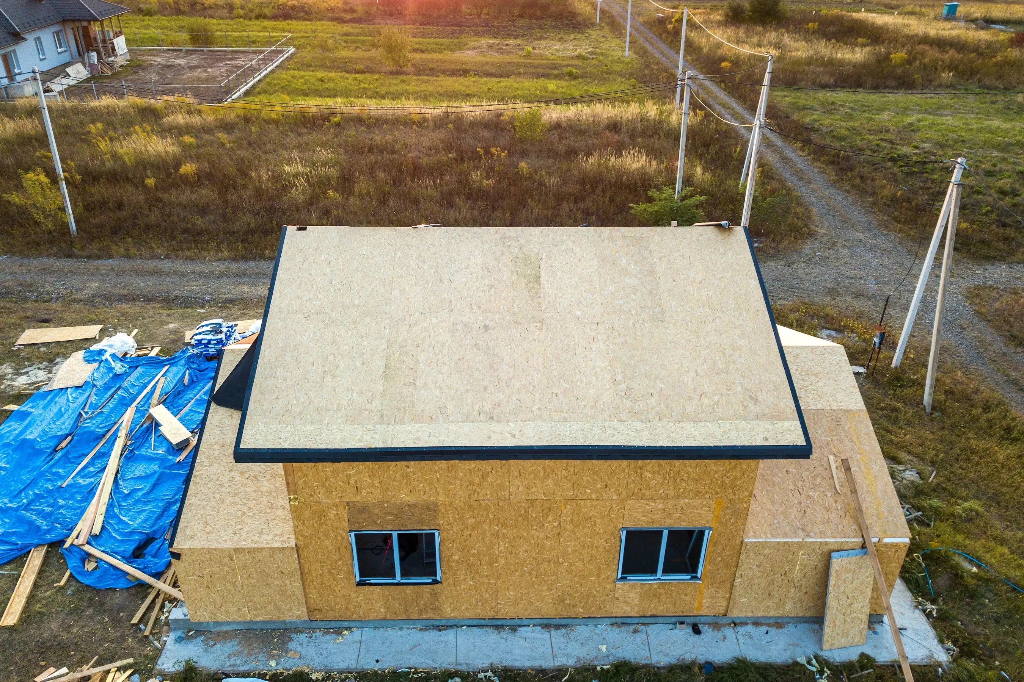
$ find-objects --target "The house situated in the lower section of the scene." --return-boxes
[167,226,911,635]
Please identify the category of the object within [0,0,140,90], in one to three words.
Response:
house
